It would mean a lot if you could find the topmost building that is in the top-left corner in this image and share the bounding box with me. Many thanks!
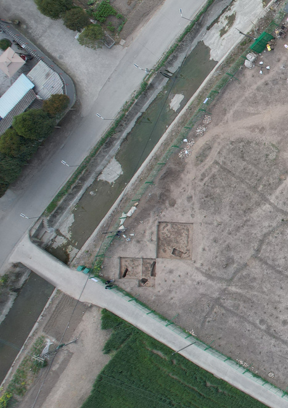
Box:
[0,47,37,78]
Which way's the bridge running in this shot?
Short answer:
on a diagonal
